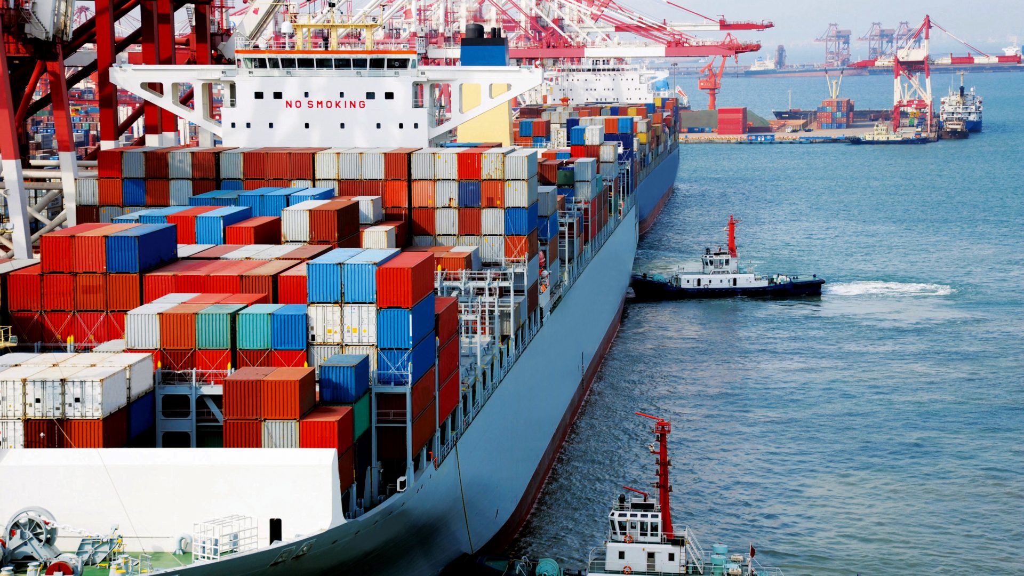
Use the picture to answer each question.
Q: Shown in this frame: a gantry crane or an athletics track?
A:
gantry crane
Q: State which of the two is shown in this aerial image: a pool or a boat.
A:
boat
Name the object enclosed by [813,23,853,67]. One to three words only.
crane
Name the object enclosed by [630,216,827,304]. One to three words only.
boat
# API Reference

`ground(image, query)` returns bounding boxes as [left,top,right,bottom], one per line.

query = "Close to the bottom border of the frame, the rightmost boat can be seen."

[453,411,802,576]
